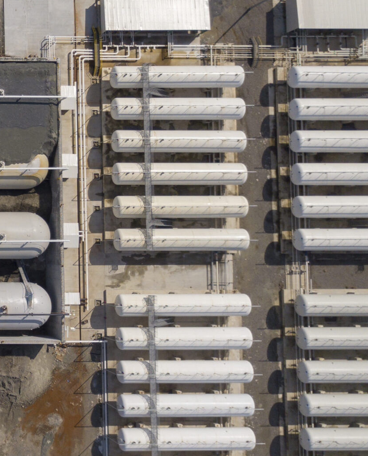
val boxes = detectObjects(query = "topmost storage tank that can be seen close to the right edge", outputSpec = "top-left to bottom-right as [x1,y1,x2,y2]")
[285,65,368,94]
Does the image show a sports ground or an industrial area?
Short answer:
industrial area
